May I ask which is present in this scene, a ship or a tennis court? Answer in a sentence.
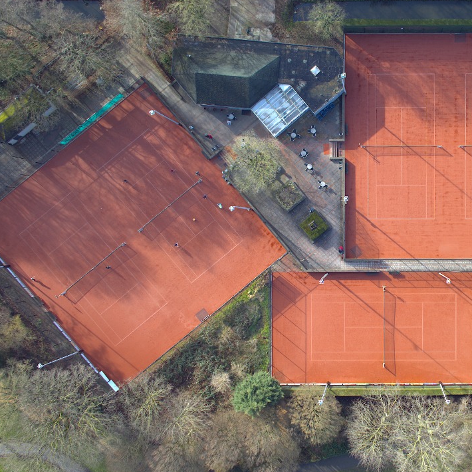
This aerial view contains a tennis court.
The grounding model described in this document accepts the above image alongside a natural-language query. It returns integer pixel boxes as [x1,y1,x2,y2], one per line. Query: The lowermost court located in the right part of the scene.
[272,272,472,386]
